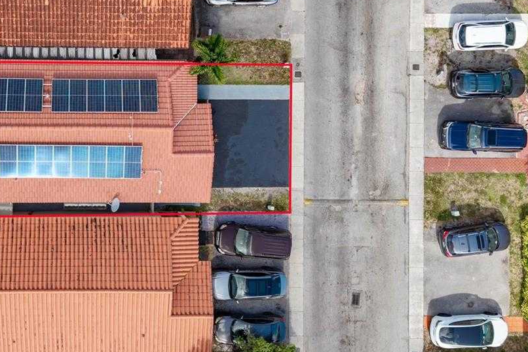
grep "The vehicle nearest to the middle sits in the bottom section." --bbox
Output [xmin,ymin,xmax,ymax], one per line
[213,221,292,259]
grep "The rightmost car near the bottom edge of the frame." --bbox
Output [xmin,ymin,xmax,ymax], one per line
[428,312,504,352]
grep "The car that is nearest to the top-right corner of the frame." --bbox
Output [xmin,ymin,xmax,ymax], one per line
[451,16,527,53]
